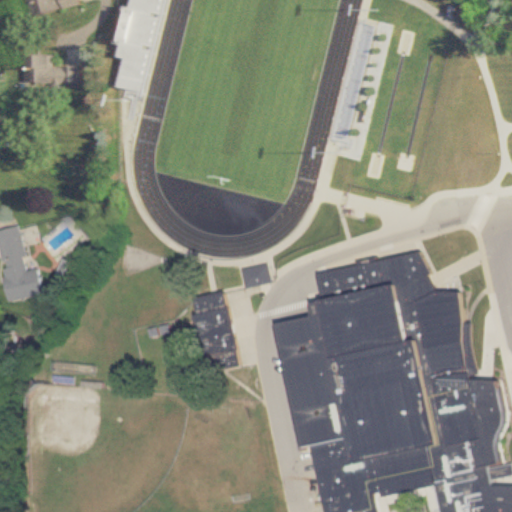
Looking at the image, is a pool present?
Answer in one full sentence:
Yes, a pool appears in the view.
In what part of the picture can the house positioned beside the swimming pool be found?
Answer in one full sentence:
The house positioned beside the swimming pool sits in the left section of the image.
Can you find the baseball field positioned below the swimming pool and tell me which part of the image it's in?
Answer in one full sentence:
The baseball field positioned below the swimming pool sits in the bottom left section of the image.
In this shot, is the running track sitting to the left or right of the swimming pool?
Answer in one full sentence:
From the viewer's perspective, the running track falls to the right of the swimming pool.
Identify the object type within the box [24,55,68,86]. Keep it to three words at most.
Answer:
house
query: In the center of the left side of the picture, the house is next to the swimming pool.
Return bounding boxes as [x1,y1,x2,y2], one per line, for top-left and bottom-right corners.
[0,228,44,301]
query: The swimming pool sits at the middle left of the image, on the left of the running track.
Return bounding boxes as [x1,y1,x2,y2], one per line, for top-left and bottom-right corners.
[42,217,90,264]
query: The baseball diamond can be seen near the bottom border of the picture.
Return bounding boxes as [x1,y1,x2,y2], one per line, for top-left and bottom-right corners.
[26,384,122,512]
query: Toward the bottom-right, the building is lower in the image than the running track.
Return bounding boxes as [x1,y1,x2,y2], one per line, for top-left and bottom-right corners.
[272,250,512,512]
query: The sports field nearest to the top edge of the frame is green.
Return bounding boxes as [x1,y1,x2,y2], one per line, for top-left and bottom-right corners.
[154,0,340,204]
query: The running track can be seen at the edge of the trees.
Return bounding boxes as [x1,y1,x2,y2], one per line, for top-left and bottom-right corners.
[132,0,362,256]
